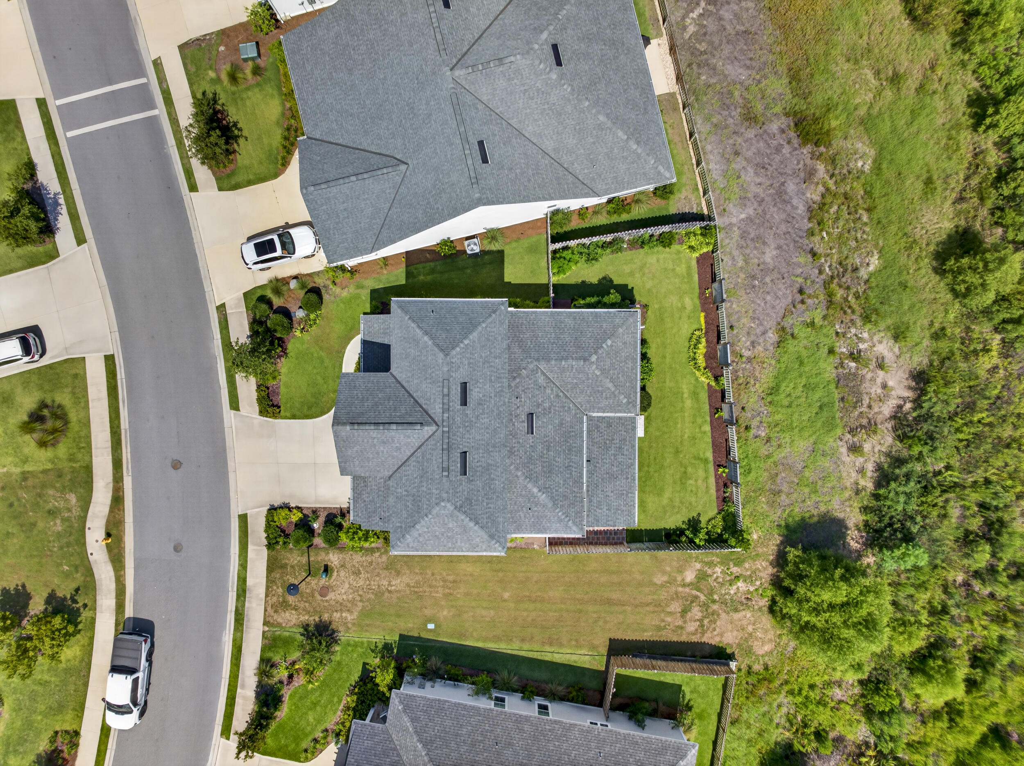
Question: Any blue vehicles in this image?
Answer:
No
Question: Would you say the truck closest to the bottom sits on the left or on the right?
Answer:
left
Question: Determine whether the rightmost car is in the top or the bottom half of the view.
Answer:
top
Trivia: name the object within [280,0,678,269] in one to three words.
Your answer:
house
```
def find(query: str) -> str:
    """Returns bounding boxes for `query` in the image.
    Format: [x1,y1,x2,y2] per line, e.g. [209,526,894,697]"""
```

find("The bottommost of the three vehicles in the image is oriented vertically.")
[101,631,155,731]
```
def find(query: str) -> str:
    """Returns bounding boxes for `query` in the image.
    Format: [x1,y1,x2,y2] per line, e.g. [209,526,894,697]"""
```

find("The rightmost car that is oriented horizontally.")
[237,224,320,273]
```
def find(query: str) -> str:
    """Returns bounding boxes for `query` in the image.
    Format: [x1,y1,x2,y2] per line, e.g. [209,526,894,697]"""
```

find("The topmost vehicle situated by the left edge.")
[0,331,46,369]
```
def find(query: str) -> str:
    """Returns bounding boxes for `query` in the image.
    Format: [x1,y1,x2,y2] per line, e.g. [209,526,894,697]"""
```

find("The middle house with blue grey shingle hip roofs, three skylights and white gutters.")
[334,296,643,556]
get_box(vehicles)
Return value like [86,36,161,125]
[101,631,155,731]
[237,224,320,273]
[0,331,46,369]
